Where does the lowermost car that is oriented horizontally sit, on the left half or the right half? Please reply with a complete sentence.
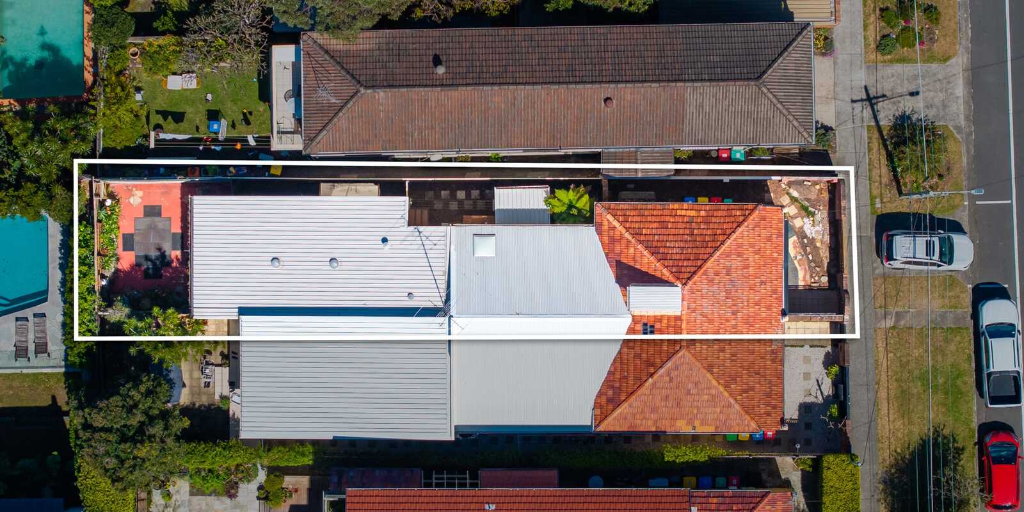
The lowermost car that is oriented horizontally appears in the right half of the scene.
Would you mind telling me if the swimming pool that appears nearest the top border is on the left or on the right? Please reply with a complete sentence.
The swimming pool that appears nearest the top border sits on the left side.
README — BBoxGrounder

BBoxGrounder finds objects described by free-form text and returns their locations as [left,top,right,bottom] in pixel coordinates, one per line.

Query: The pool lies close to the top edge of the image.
[0,0,83,97]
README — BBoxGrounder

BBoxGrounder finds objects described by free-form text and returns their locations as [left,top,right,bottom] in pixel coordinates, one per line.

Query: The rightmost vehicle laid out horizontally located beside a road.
[879,228,974,273]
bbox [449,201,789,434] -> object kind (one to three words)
house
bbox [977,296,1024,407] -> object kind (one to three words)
truck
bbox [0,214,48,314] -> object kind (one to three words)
swimming pool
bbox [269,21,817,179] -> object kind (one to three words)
building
